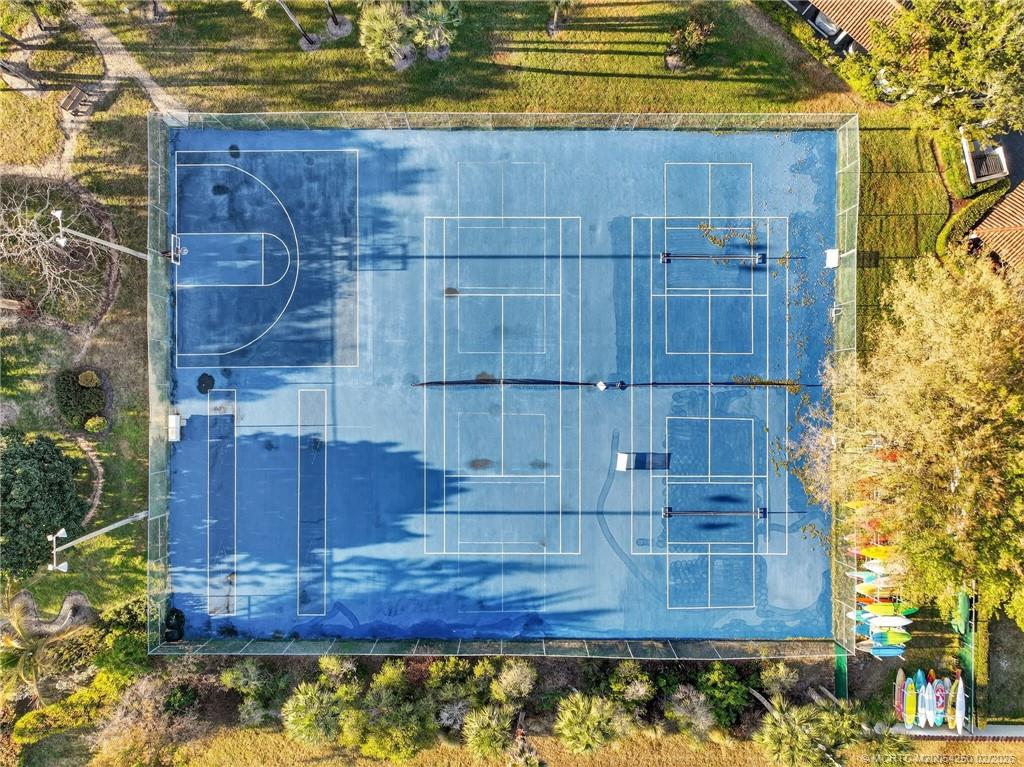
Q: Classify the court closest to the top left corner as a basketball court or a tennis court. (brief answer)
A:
basketball court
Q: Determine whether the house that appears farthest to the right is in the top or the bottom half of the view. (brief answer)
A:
top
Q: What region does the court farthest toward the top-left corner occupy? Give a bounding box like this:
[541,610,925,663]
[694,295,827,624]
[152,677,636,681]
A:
[176,149,359,368]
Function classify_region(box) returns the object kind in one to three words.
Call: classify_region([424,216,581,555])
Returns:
tennis court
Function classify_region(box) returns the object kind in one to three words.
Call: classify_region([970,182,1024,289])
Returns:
house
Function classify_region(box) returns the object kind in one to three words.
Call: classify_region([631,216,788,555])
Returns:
tennis court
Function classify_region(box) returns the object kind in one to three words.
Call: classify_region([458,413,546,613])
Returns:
sports court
